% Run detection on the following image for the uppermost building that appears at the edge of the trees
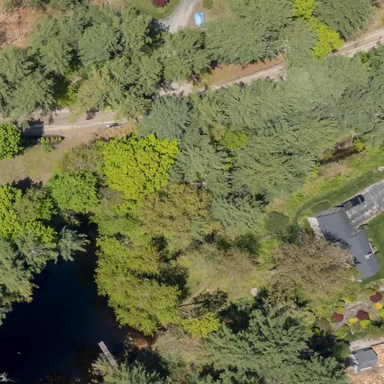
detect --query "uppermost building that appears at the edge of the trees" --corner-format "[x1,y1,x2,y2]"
[312,205,379,280]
